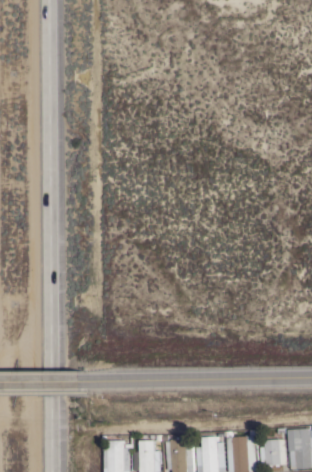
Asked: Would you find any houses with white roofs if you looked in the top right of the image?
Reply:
No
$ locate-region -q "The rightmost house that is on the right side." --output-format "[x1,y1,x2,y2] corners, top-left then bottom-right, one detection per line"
[288,430,312,471]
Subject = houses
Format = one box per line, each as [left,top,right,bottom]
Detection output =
[196,438,226,472]
[166,442,196,472]
[138,441,162,472]
[228,438,256,472]
[288,430,312,471]
[104,441,131,472]
[261,441,286,467]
